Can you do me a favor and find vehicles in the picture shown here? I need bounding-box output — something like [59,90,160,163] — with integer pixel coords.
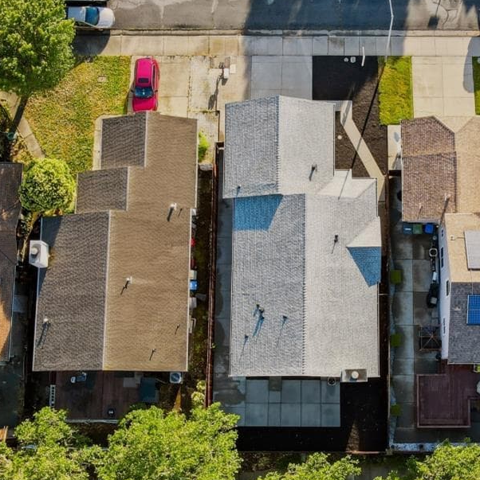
[64,5,119,32]
[132,60,158,109]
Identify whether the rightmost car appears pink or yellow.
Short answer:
pink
